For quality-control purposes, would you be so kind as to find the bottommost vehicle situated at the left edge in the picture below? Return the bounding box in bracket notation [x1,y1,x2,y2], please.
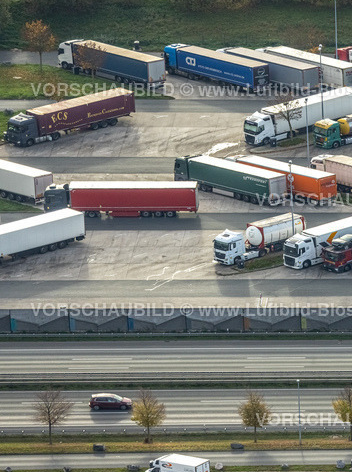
[0,208,86,264]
